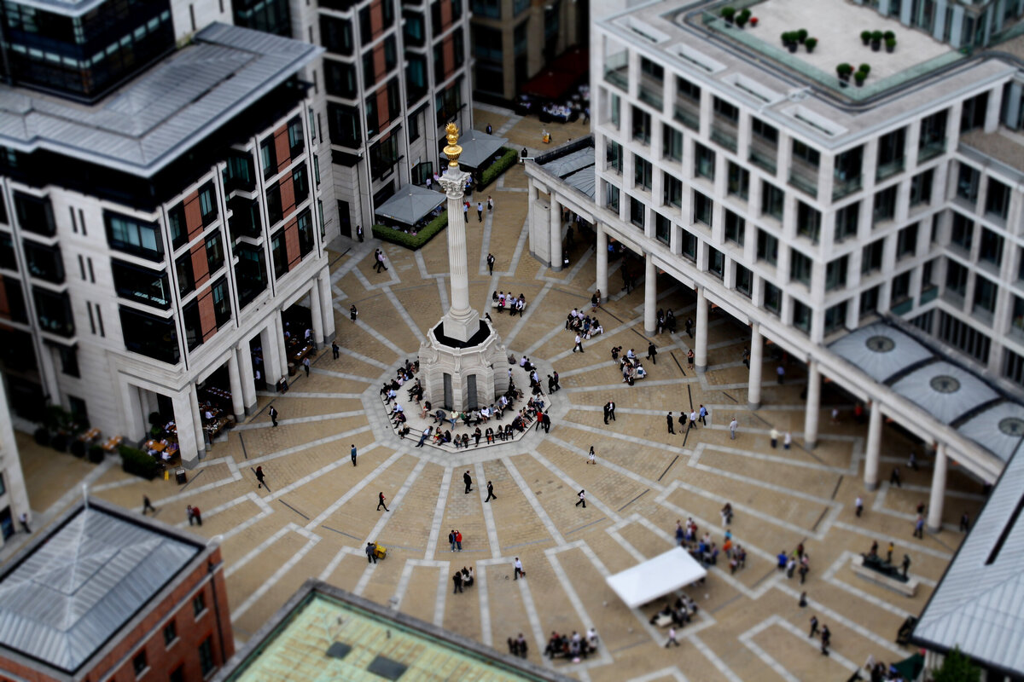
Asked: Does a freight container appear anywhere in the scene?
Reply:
No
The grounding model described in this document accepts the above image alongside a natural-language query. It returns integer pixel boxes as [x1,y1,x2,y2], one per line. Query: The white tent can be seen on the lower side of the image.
[604,547,707,640]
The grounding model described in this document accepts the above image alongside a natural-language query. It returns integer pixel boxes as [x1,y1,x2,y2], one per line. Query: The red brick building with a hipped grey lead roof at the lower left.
[0,483,227,682]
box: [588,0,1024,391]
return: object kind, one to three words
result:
building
